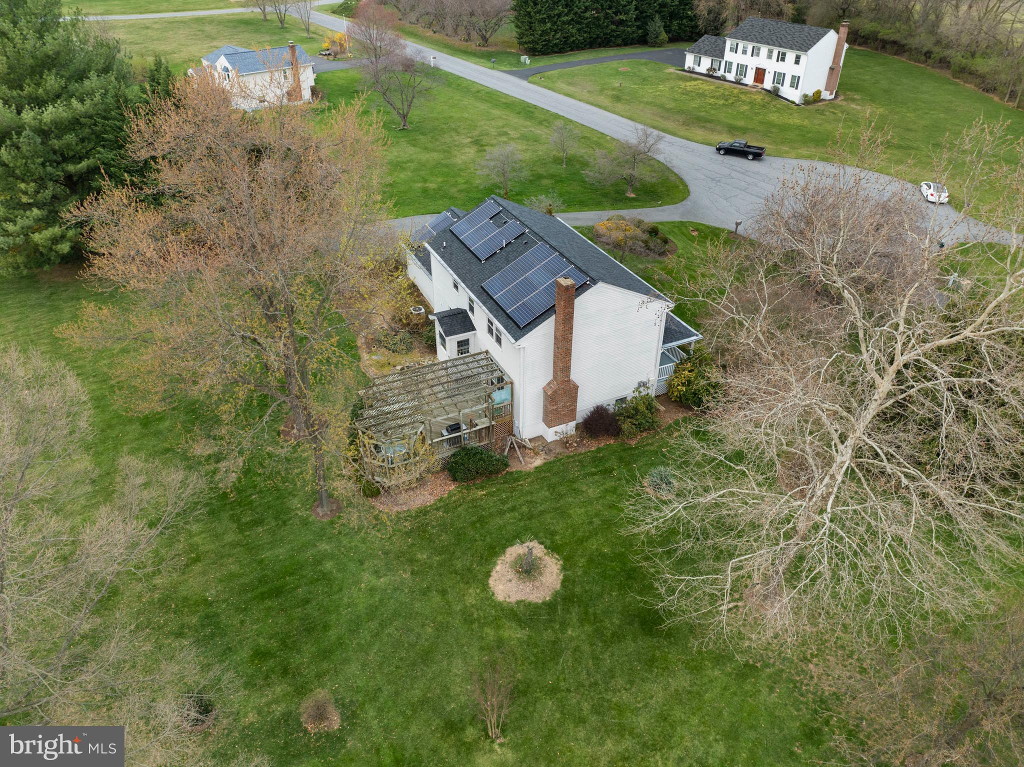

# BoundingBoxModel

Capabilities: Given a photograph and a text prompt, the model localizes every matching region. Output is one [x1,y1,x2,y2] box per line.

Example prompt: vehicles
[918,180,951,203]
[713,137,769,160]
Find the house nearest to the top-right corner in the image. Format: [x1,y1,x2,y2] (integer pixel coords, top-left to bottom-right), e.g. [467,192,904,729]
[695,14,854,100]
